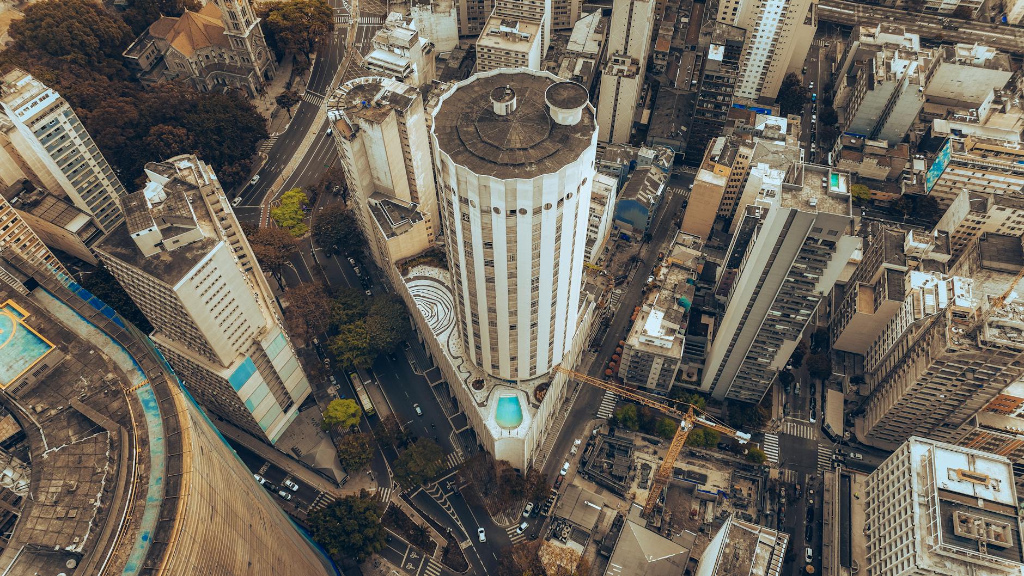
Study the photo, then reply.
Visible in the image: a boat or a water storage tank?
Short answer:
water storage tank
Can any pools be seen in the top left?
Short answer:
No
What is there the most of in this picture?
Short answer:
buildings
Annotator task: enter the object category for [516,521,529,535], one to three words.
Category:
vehicle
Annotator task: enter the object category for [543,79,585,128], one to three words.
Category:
water tank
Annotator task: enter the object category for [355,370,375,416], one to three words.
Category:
bus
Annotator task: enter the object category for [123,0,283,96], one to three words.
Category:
building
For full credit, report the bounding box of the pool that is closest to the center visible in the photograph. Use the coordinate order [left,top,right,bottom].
[496,394,522,429]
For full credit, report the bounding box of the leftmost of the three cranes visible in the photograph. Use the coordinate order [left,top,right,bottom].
[553,365,748,524]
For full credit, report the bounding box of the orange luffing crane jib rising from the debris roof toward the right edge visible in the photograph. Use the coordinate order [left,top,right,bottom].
[964,265,1024,338]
